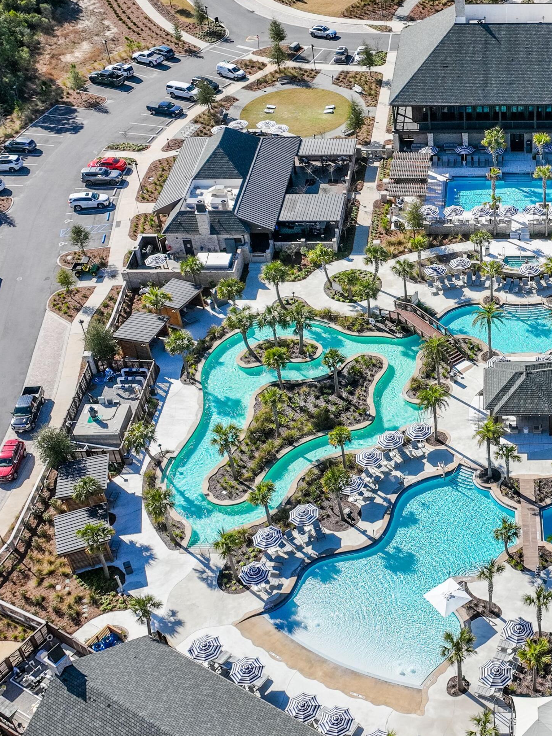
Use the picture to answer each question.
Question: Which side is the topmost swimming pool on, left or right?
right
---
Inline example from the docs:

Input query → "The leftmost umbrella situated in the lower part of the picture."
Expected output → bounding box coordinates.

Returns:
[191,637,225,669]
